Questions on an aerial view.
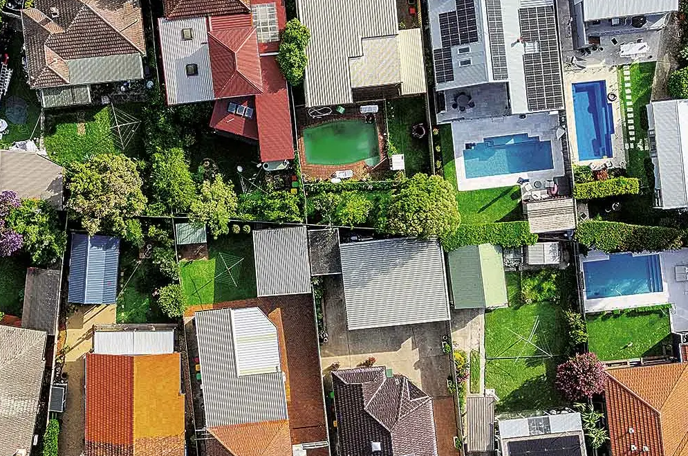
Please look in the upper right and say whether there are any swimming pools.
Yes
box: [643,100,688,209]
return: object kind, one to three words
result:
building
